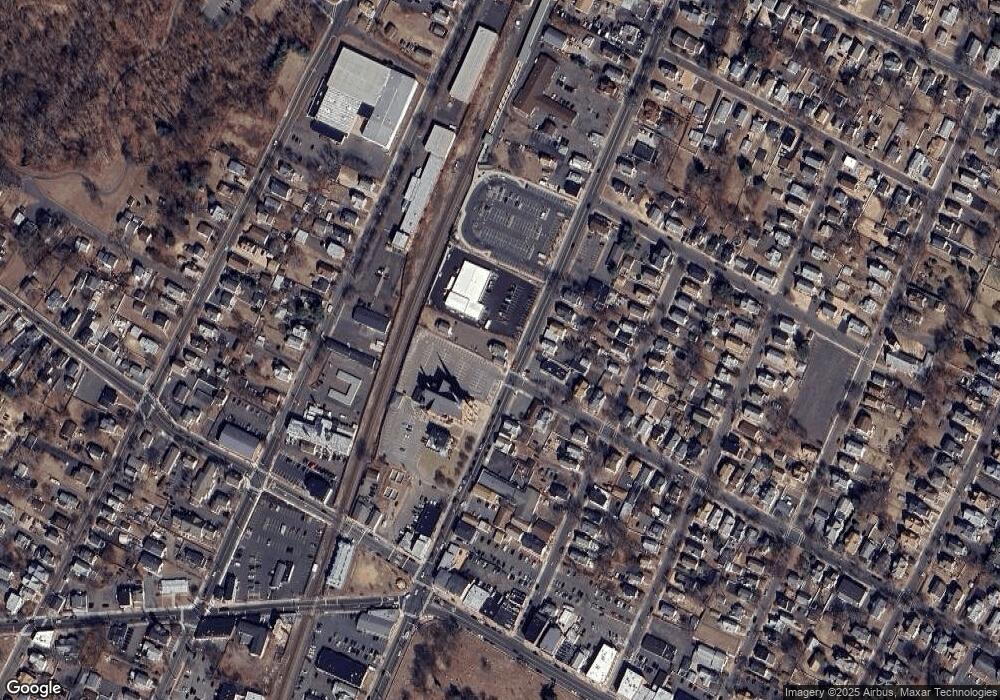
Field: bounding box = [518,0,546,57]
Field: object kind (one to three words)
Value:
shed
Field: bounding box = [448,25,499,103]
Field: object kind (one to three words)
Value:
building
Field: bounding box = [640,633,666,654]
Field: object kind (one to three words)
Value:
house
